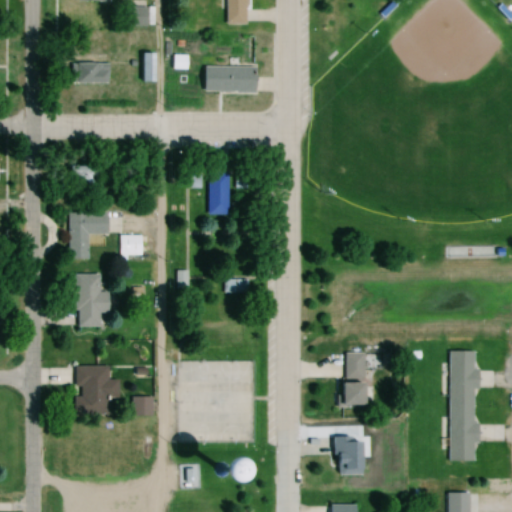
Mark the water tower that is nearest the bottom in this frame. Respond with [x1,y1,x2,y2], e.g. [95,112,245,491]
[213,458,258,484]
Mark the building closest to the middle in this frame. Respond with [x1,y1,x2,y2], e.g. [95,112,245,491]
[223,278,250,294]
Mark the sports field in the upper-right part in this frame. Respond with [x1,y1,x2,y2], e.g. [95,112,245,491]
[308,0,512,224]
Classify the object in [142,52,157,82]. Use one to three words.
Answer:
shed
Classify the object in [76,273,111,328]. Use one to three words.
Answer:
house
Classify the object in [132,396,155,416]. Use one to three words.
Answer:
building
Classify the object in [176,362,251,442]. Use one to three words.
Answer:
sports court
